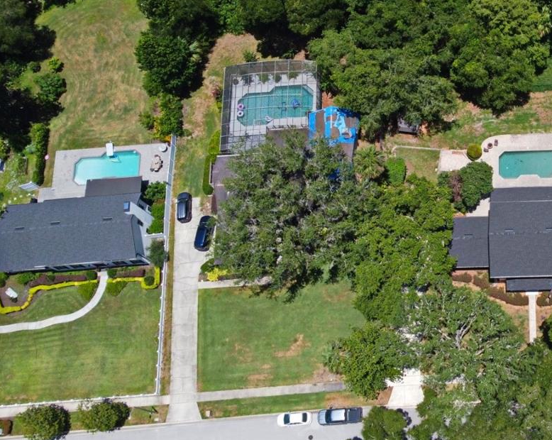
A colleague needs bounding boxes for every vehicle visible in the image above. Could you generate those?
[318,406,364,426]
[193,218,216,249]
[175,194,194,222]
[277,409,314,427]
